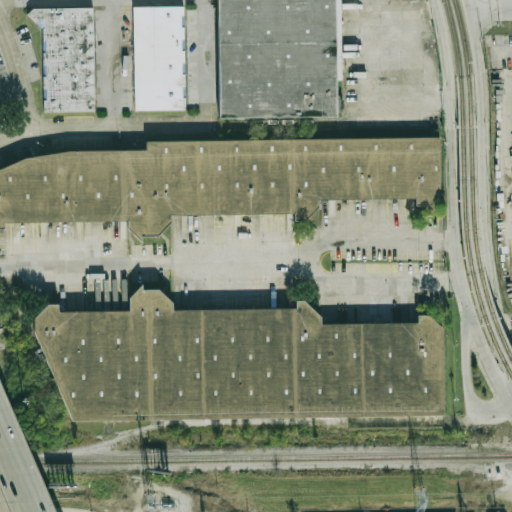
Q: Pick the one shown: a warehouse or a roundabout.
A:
warehouse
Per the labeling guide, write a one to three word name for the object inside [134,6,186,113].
building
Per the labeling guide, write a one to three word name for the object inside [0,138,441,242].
building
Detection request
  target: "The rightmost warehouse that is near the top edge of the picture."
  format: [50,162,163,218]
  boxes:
[220,0,343,120]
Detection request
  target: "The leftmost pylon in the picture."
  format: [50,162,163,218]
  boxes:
[413,486,428,508]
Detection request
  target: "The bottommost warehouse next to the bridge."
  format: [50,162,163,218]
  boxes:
[35,285,445,422]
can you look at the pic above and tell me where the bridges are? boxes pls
[0,382,58,512]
